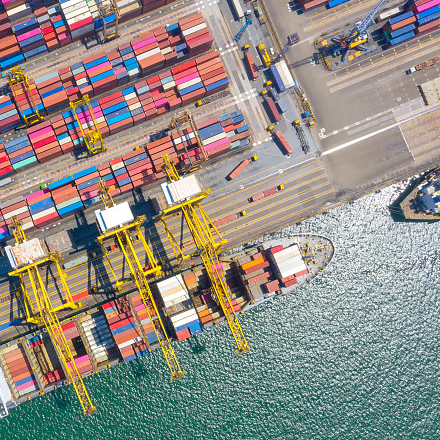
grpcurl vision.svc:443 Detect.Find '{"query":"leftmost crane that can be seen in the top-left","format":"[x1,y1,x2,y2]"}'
[0,60,49,129]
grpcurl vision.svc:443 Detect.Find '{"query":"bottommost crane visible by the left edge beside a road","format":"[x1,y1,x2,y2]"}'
[1,215,95,417]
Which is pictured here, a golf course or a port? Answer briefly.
port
